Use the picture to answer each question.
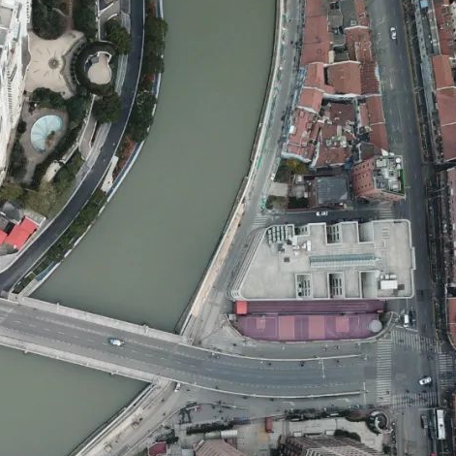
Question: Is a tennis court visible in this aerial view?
No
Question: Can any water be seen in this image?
Yes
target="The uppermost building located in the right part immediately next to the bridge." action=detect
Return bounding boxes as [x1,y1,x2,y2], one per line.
[225,220,416,300]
